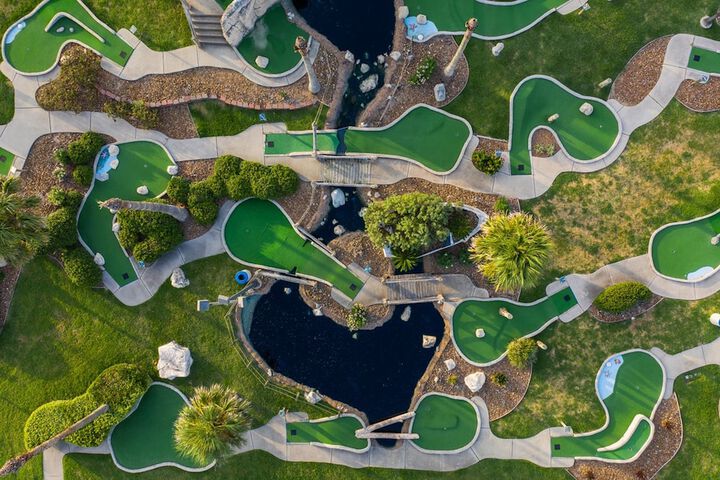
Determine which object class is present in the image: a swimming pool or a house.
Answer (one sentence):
It is a swimming pool that can be seen here.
